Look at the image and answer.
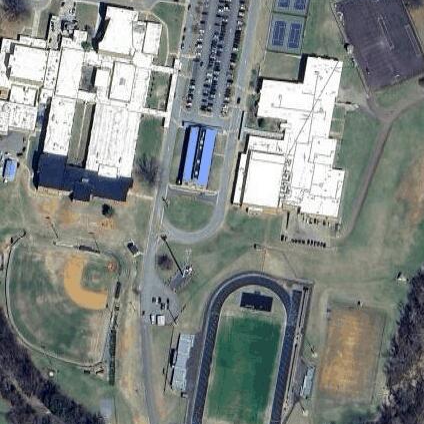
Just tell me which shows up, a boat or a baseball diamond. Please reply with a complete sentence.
This aerial view contains a baseball diamond.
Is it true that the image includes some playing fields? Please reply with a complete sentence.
Yes, a playing field is visible in the scene.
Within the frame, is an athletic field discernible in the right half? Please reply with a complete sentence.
Yes, in the right half there is an athletic field.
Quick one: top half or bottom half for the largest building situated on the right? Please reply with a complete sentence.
The largest building situated on the right is in the top half of the image.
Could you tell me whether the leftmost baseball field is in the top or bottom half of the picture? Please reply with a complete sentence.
The bottom half of the photo is where the leftmost baseball field is.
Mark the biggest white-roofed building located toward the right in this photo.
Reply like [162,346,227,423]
[233,57,345,221]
